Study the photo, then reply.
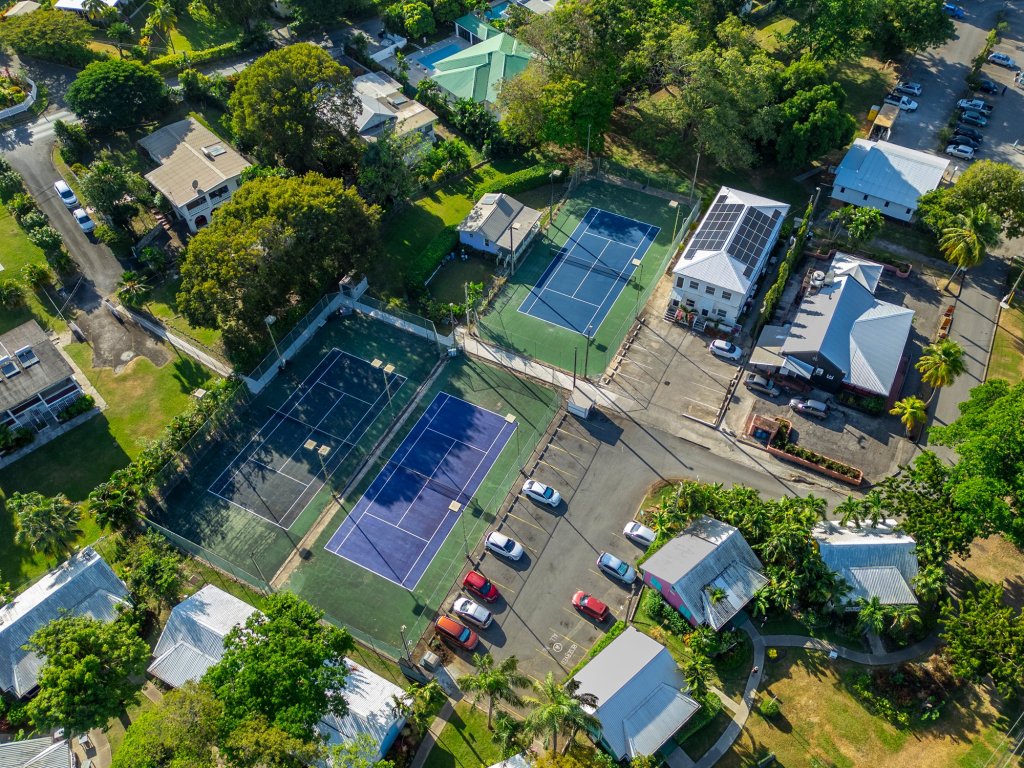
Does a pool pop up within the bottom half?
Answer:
No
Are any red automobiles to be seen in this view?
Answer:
Yes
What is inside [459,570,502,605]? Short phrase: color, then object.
red car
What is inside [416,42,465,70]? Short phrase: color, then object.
blue swimming pool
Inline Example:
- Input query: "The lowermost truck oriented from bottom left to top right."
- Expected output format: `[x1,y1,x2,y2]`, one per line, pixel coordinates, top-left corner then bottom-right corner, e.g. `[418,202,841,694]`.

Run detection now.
[869,104,900,141]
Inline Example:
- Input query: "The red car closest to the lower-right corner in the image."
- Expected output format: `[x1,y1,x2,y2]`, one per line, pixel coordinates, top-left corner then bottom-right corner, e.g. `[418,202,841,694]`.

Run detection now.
[568,587,611,622]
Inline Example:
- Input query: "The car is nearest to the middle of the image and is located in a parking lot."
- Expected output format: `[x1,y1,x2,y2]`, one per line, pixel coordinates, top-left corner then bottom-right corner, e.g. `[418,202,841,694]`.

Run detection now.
[521,478,561,507]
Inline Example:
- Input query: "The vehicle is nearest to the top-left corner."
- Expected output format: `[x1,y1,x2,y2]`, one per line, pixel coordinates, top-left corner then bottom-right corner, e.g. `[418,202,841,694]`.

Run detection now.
[55,181,78,204]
